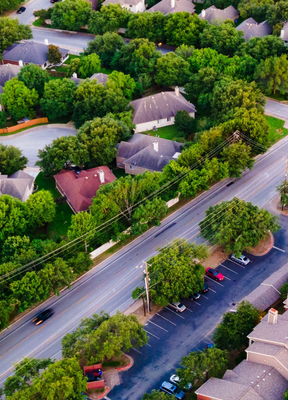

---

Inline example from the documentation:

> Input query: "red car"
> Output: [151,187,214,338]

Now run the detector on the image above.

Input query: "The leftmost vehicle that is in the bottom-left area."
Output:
[34,308,55,326]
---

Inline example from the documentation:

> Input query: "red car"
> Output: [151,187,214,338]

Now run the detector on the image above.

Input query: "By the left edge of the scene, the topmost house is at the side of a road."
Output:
[1,37,70,72]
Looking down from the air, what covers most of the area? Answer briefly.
trees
